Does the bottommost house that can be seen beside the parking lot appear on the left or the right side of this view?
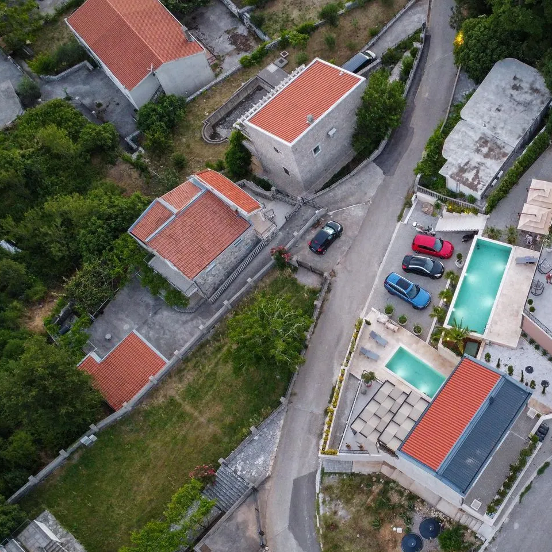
right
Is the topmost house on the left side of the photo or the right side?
left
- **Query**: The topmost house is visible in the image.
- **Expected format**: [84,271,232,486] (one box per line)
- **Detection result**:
[64,0,216,106]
